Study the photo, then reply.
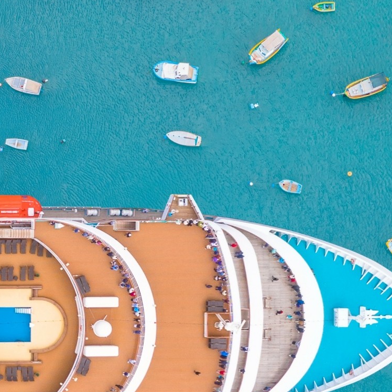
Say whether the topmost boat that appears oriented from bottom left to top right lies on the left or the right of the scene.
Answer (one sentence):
You can find the topmost boat that appears oriented from bottom left to top right on the right side of the picture.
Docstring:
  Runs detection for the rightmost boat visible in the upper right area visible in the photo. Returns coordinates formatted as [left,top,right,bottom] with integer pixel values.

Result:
[339,71,392,99]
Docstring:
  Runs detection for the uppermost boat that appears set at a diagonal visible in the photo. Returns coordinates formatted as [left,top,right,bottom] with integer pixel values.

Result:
[245,26,291,64]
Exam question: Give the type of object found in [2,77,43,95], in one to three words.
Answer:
boat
